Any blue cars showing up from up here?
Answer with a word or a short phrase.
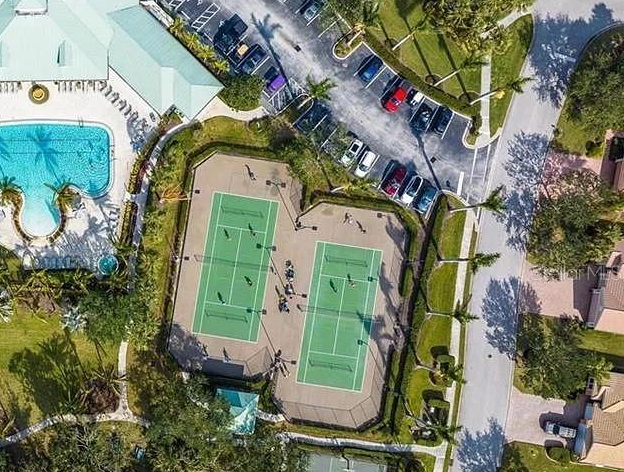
Yes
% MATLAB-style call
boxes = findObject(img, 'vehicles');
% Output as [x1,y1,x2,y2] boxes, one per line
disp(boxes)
[241,47,266,75]
[216,13,247,48]
[399,174,424,202]
[339,138,365,166]
[356,58,382,84]
[381,83,406,114]
[430,107,454,135]
[384,166,408,194]
[265,72,288,97]
[408,91,426,108]
[410,103,435,132]
[300,0,323,22]
[542,420,578,438]
[353,149,378,177]
[235,39,251,58]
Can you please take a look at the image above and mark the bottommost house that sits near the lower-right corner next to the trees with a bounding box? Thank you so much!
[571,372,624,468]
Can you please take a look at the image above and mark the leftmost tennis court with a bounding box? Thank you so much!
[168,153,302,380]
